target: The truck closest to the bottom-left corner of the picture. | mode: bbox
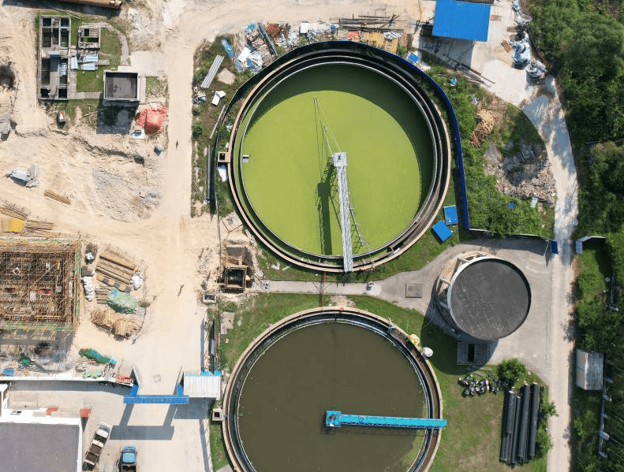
[84,423,112,472]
